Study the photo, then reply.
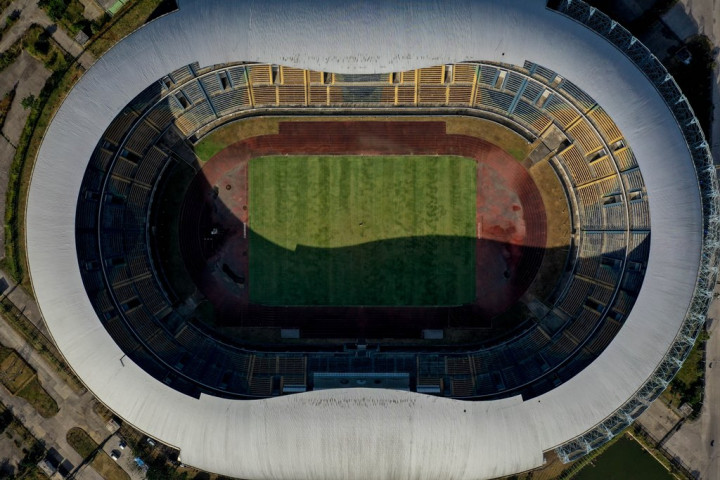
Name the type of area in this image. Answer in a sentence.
This image shows a sports ground.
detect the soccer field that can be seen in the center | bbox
[248,155,476,305]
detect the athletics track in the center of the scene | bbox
[179,122,546,335]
